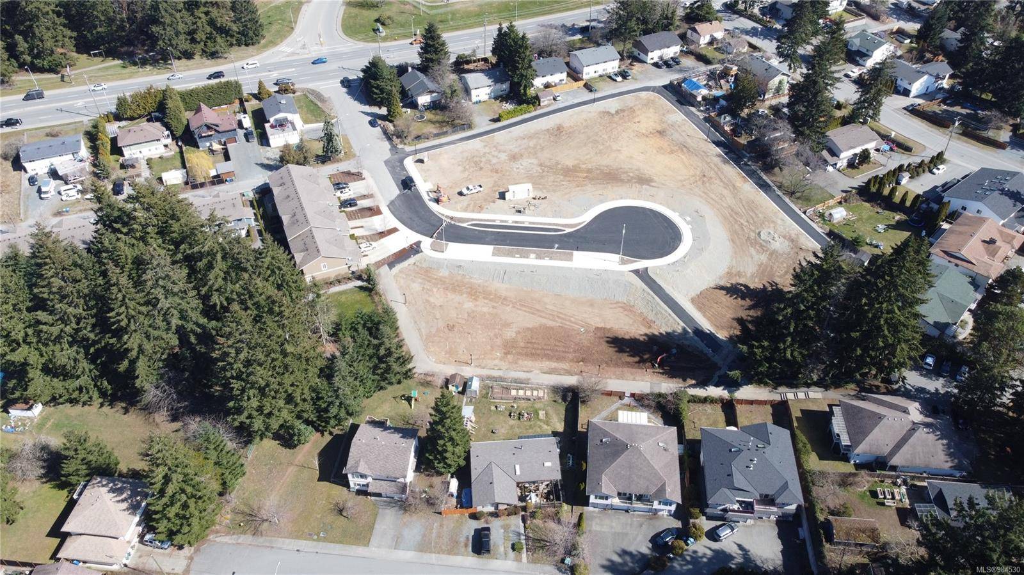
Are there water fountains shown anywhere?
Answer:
No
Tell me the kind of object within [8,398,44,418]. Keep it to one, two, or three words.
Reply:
shed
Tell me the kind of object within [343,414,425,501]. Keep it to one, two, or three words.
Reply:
house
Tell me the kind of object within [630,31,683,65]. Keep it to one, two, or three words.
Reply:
house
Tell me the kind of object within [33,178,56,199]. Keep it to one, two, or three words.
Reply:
vehicle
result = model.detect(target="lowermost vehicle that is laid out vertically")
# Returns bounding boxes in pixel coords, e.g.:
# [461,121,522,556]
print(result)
[479,523,492,555]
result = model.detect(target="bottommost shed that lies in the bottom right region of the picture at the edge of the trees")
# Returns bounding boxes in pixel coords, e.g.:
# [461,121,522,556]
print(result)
[826,516,881,550]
